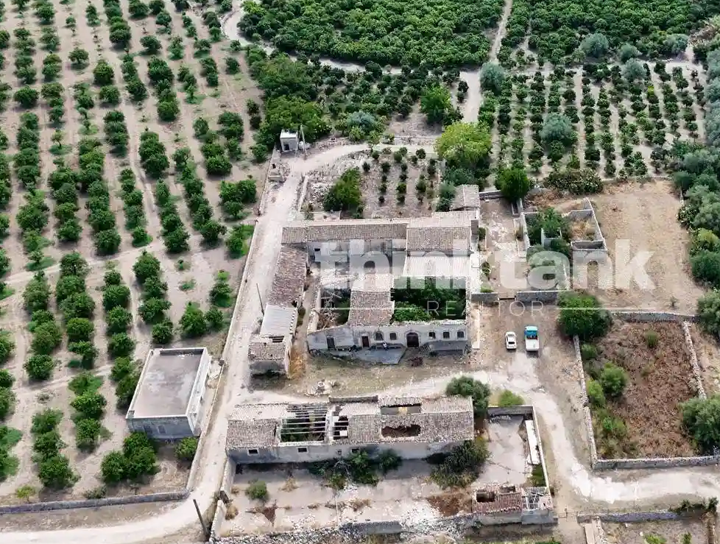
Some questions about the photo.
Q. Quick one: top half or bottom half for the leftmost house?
bottom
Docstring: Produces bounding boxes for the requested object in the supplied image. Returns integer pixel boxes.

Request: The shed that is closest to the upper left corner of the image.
[278,128,299,152]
